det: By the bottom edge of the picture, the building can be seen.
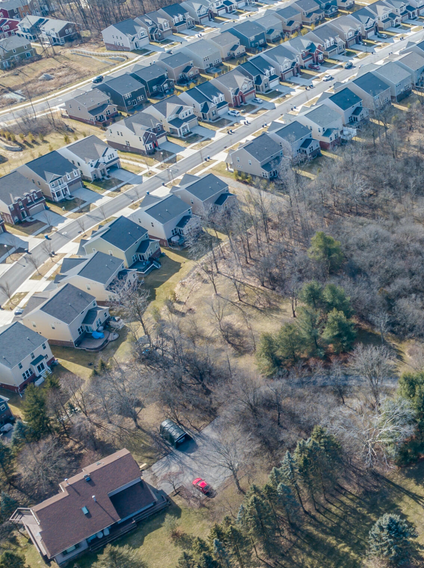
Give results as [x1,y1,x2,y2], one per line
[4,449,169,568]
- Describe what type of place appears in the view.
residential area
